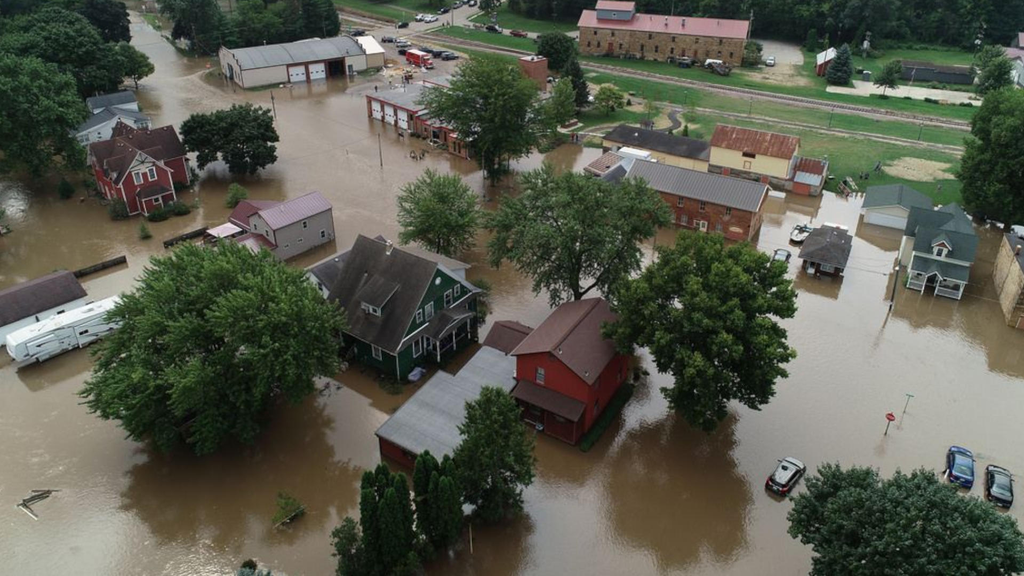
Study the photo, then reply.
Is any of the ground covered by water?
Yes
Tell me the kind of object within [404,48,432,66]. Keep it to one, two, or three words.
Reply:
vehicle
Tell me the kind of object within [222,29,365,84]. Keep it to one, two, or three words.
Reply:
barn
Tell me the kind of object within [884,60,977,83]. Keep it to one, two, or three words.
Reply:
shed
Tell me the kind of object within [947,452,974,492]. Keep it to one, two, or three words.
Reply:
car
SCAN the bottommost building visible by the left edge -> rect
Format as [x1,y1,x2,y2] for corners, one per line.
[0,268,88,346]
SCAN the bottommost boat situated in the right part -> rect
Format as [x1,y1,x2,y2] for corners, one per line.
[791,220,814,246]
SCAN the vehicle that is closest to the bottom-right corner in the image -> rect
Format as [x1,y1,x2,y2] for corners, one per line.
[984,470,1012,512]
